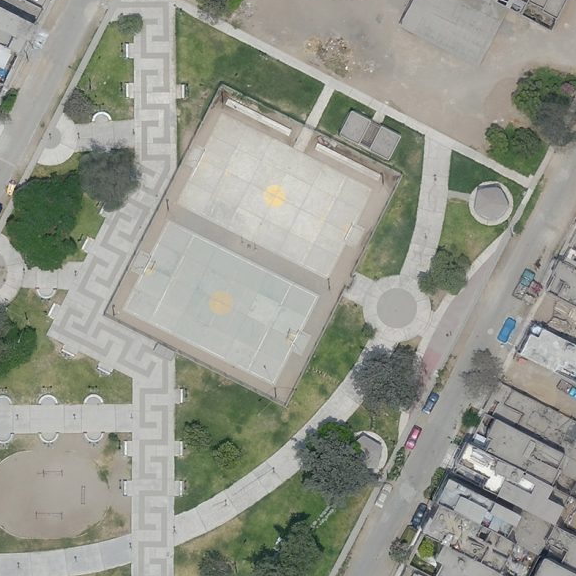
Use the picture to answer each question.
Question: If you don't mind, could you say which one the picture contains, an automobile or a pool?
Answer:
automobile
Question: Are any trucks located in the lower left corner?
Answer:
No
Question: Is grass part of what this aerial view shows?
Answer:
Yes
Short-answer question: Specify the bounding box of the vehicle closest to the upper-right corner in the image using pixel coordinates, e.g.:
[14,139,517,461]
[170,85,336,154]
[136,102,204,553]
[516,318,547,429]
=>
[511,267,536,301]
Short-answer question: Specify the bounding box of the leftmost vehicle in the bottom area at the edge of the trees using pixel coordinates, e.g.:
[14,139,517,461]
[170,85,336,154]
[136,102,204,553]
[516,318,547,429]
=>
[373,481,393,509]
